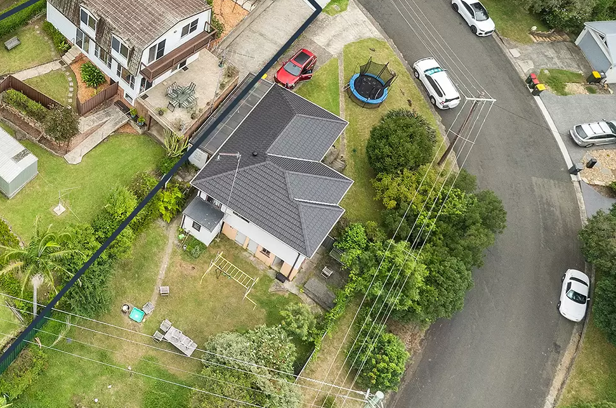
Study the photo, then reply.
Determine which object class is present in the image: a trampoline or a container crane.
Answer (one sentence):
Looking from above, you can make out a trampoline.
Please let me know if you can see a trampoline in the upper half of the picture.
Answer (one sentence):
Yes, a trampoline can be seen in the upper half of the picture.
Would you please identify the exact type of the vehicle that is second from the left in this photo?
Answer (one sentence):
Specifically, the vehicle that is second from the left is an automobile.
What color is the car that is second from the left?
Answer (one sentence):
In this view, the car that is second from the left is white.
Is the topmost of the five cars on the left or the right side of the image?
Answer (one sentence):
The topmost of the five cars sits on the right side.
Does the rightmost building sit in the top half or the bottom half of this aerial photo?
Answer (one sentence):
The top half of the photo is where the rightmost building is.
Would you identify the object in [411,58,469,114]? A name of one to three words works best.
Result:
car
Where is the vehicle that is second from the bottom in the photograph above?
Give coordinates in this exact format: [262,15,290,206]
[562,114,616,149]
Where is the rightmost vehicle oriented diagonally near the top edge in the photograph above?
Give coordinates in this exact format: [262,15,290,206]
[446,0,501,38]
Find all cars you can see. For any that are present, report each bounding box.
[446,0,501,38]
[562,114,616,149]
[411,58,469,114]
[276,45,320,94]
[553,262,596,328]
